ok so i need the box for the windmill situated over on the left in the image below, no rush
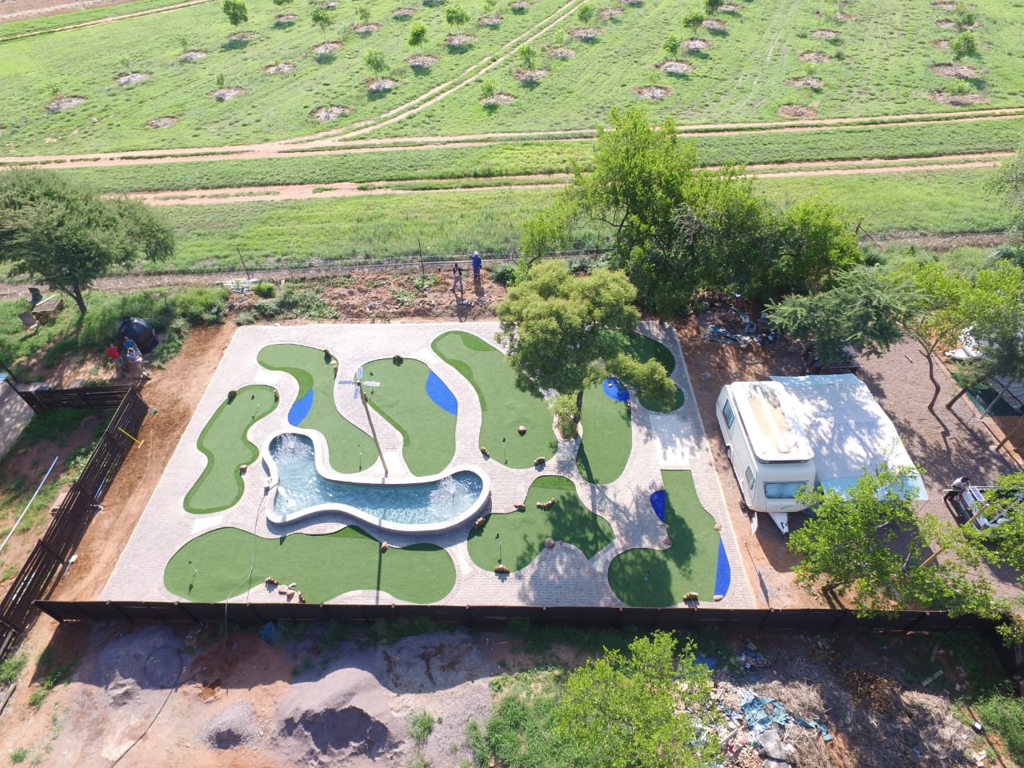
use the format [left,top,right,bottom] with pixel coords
[336,369,387,476]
